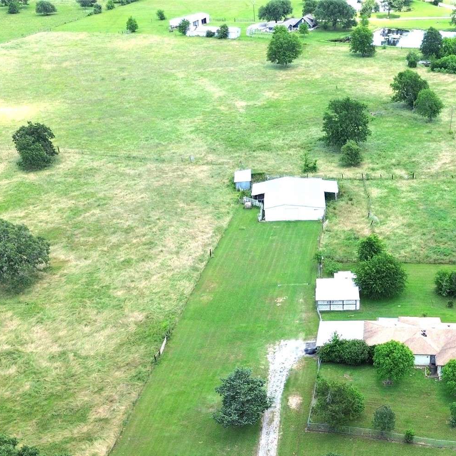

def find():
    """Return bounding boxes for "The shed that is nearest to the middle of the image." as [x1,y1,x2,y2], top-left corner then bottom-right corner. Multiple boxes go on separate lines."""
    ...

[234,169,253,191]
